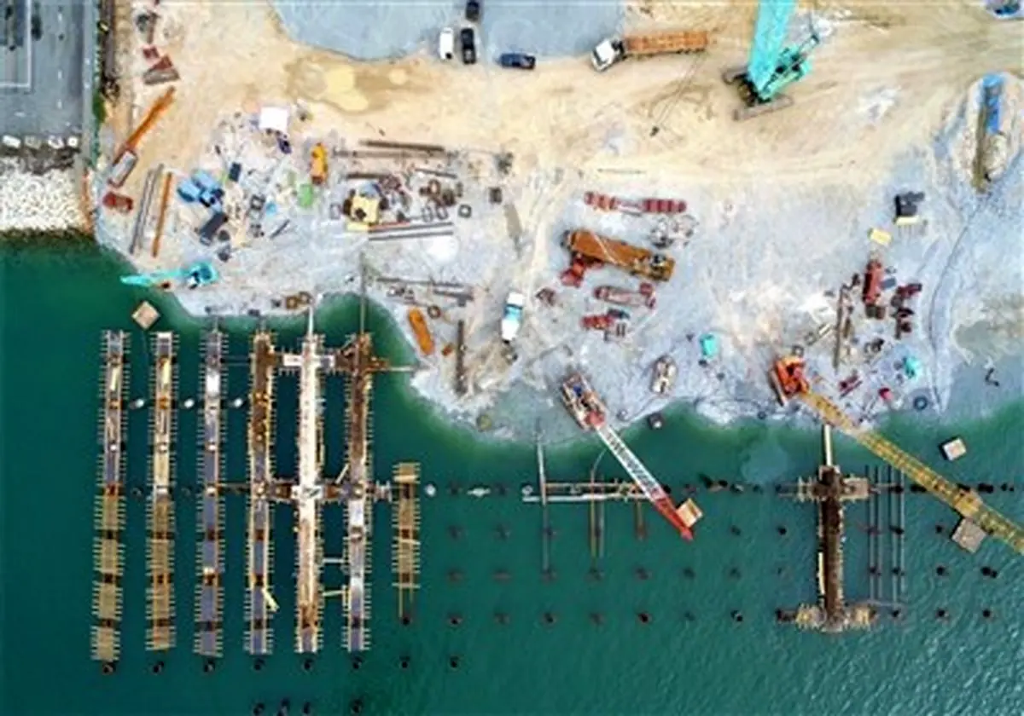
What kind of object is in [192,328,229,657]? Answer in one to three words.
pier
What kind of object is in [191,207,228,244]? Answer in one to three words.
truck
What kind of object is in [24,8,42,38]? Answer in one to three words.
car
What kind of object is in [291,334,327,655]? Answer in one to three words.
pier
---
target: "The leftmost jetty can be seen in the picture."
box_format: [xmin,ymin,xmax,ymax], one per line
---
[90,330,131,663]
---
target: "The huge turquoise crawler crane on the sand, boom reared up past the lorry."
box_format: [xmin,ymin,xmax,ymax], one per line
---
[736,0,825,109]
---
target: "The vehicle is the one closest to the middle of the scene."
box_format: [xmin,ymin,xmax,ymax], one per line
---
[502,290,522,343]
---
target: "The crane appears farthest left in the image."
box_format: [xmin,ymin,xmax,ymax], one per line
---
[559,373,693,542]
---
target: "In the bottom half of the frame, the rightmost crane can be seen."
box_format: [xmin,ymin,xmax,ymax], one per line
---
[766,347,1024,559]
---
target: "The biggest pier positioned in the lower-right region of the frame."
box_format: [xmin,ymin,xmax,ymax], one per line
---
[815,467,846,632]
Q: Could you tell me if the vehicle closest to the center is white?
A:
Yes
